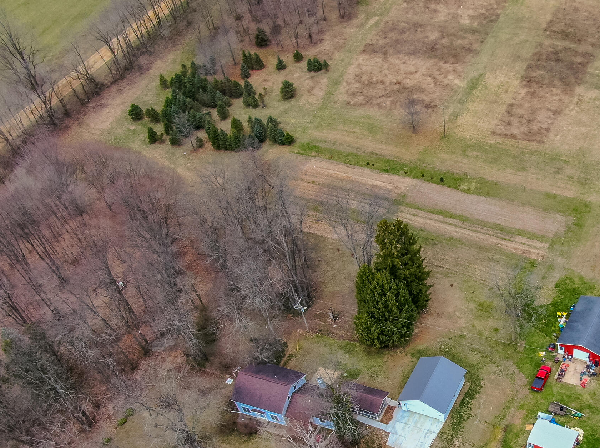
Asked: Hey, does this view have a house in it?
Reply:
Yes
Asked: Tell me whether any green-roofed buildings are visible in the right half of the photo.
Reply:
No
